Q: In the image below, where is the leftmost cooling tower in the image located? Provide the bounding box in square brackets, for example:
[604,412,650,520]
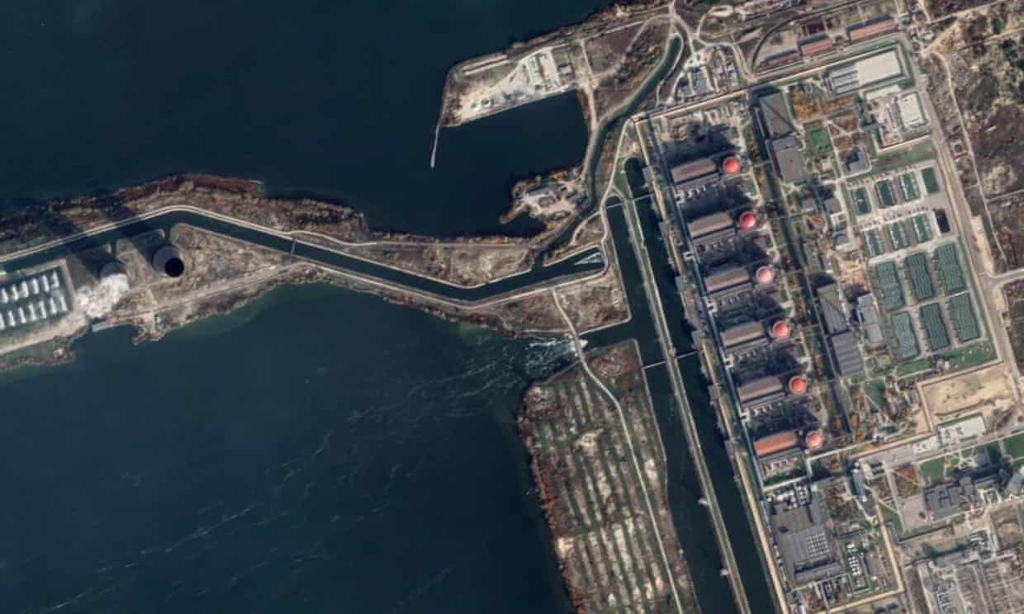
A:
[99,259,133,294]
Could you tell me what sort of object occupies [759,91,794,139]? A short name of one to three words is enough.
building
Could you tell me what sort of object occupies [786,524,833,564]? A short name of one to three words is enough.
building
